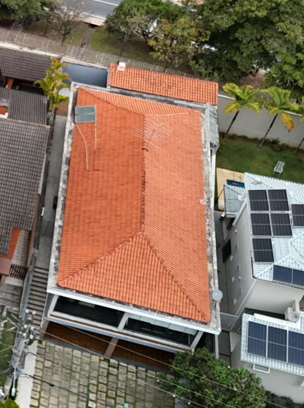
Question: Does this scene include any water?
No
